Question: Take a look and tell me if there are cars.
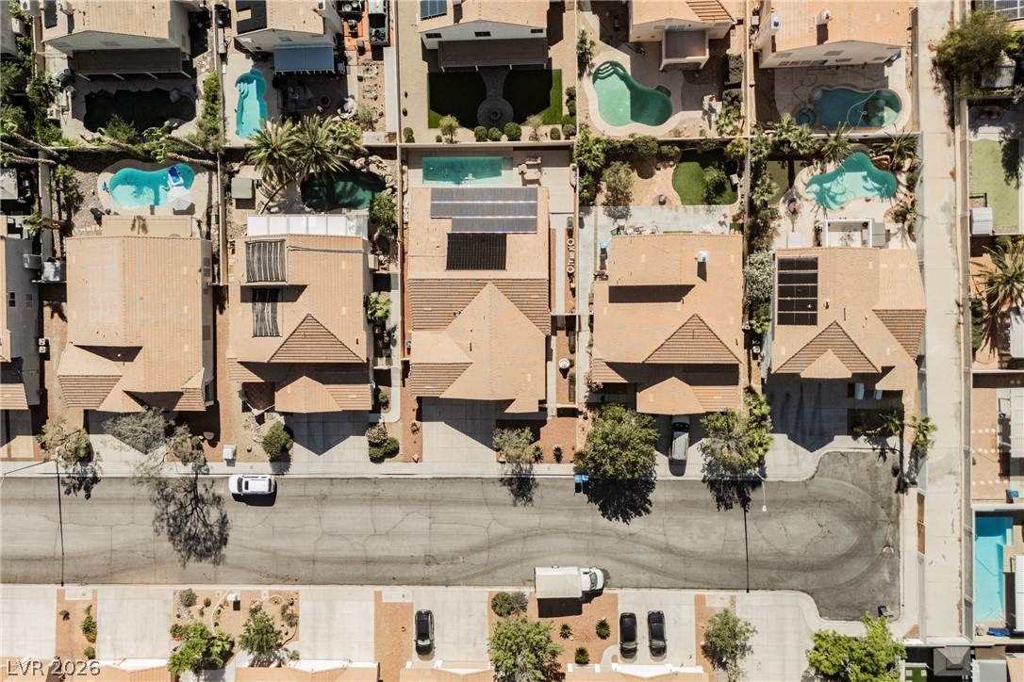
Yes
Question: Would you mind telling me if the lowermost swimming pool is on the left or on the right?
right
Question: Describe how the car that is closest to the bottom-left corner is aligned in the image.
from side to side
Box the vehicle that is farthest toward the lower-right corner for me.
[646,609,668,655]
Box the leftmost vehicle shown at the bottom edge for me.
[414,608,435,653]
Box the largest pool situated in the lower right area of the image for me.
[974,515,1017,624]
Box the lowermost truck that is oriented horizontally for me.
[534,566,603,597]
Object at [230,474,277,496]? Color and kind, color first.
white car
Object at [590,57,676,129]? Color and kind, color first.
green swimming pool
